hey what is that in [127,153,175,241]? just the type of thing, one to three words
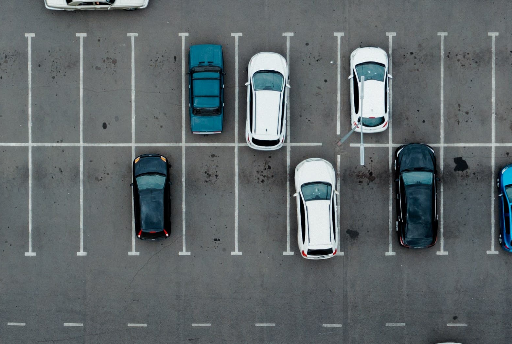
car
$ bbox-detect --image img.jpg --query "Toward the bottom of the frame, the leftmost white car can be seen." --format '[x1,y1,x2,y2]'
[291,158,342,260]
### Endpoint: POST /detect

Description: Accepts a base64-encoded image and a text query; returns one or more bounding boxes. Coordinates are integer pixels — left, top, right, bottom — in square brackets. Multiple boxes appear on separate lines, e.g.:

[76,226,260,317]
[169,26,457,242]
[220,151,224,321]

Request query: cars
[43,0,150,14]
[127,153,175,241]
[184,43,228,134]
[496,164,512,252]
[346,46,396,134]
[243,51,294,151]
[291,158,342,260]
[392,143,445,248]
